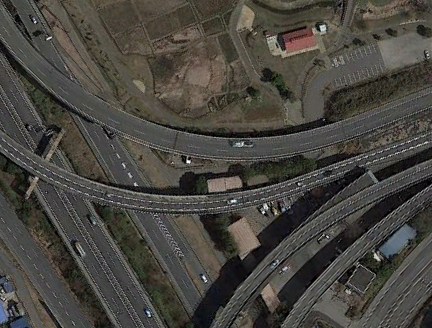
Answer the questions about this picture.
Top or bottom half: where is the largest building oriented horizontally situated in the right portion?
top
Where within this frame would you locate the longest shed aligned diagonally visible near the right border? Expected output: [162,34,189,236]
[377,223,417,261]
